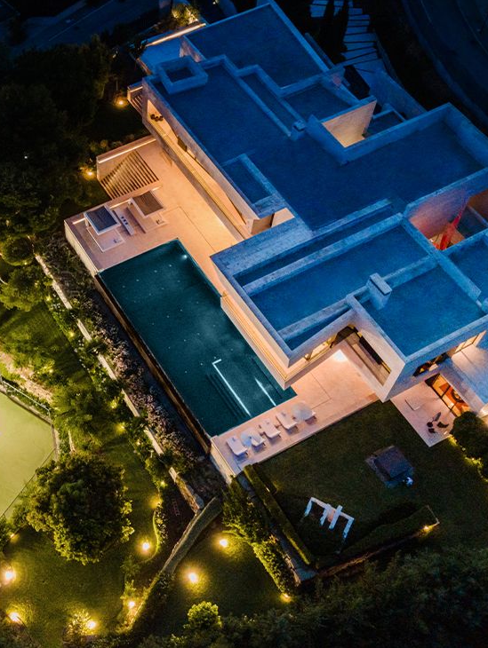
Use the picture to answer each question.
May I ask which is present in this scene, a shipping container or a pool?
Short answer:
pool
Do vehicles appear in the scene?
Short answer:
No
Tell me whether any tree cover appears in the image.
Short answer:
Yes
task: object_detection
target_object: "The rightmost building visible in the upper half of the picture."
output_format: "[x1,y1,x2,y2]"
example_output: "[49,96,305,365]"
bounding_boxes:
[126,0,488,427]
